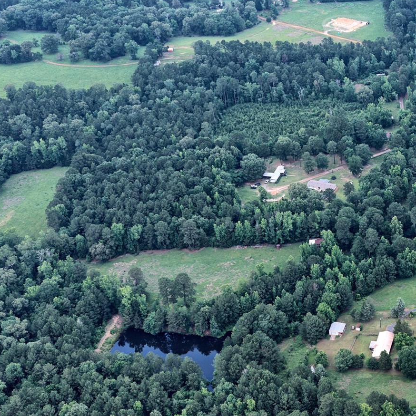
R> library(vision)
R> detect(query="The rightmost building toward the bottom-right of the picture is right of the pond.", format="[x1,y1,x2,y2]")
[367,330,394,360]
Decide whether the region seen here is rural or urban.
rural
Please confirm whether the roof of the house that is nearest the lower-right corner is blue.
No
